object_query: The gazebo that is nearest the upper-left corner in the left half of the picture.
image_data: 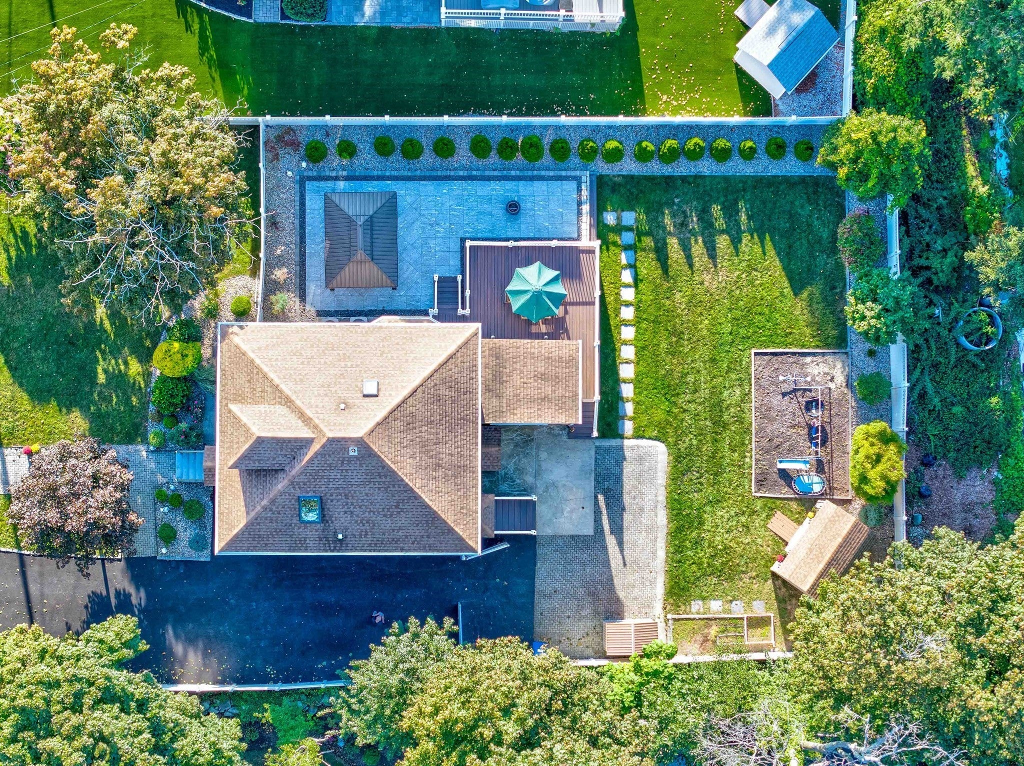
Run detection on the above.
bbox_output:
[324,189,399,293]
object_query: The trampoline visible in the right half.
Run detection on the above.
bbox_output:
[792,474,825,494]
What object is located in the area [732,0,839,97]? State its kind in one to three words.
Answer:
shed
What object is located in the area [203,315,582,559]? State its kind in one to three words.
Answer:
house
